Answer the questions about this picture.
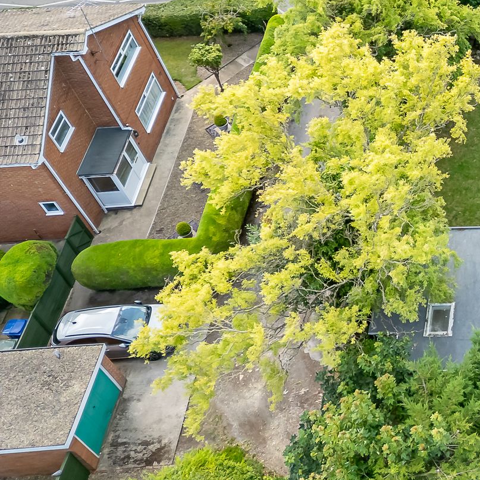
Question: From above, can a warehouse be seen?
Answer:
No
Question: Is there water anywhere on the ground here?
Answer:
No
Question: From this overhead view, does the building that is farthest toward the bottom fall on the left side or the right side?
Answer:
left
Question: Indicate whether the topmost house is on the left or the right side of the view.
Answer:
left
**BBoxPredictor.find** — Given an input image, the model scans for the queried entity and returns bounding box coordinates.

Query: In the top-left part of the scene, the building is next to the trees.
[0,0,180,238]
